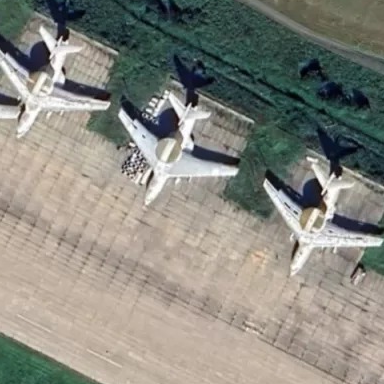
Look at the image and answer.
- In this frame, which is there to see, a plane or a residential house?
plane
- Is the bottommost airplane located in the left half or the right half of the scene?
right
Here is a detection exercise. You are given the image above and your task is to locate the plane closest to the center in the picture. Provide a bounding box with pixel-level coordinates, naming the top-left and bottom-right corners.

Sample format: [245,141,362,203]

[116,93,238,209]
